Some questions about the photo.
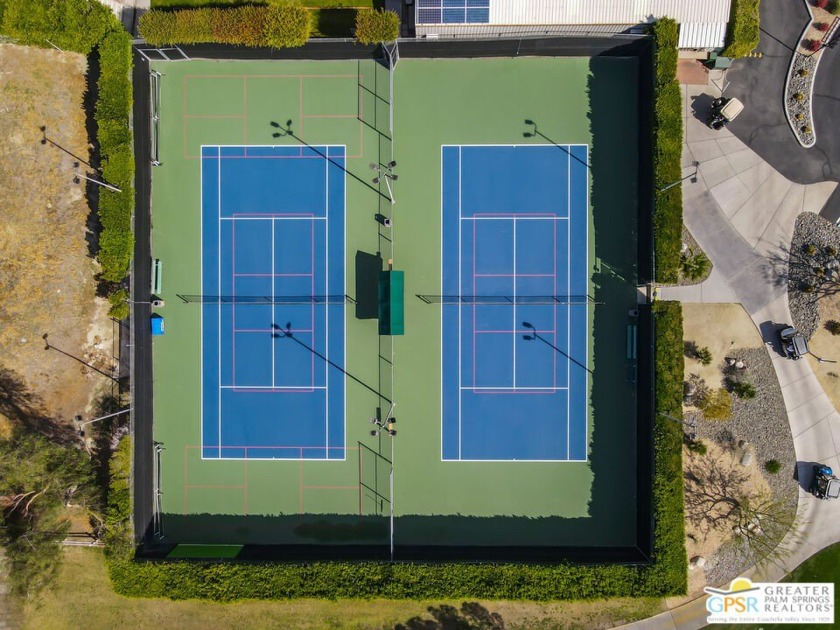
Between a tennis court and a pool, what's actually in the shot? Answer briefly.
tennis court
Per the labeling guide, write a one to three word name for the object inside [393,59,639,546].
tennis court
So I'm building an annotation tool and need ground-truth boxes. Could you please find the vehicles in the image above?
[706,98,743,134]
[773,328,806,362]
[808,465,840,500]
